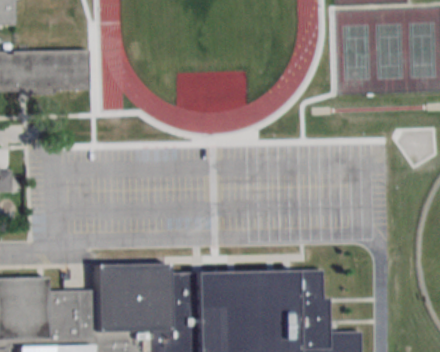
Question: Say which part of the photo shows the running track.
top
